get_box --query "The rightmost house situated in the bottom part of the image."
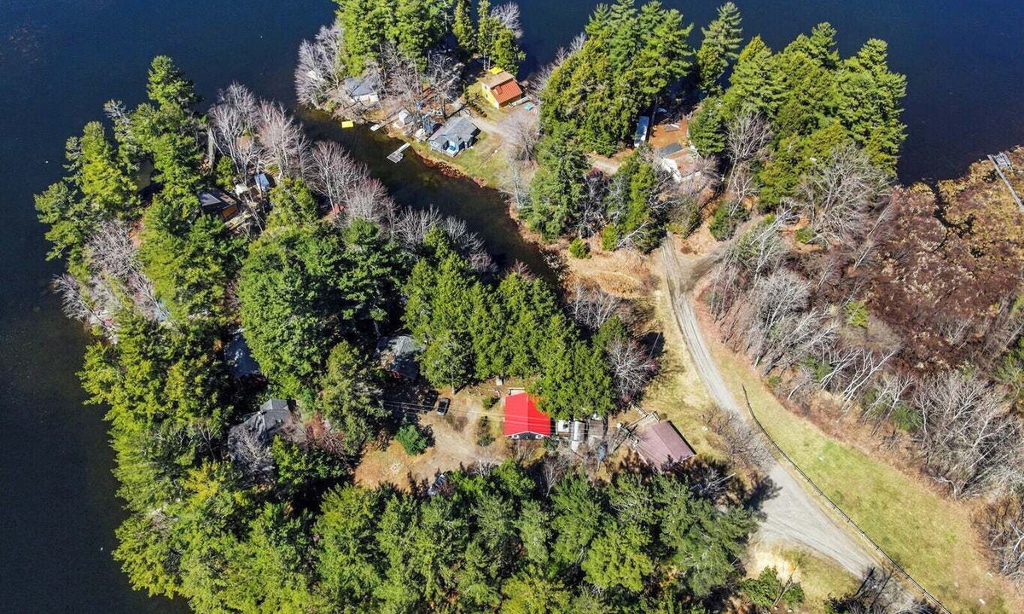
[624,415,695,477]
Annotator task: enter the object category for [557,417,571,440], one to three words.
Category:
camper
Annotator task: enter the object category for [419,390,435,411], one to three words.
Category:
car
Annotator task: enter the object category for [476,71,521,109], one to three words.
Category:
house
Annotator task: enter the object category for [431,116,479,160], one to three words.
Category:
house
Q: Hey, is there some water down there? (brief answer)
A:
Yes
